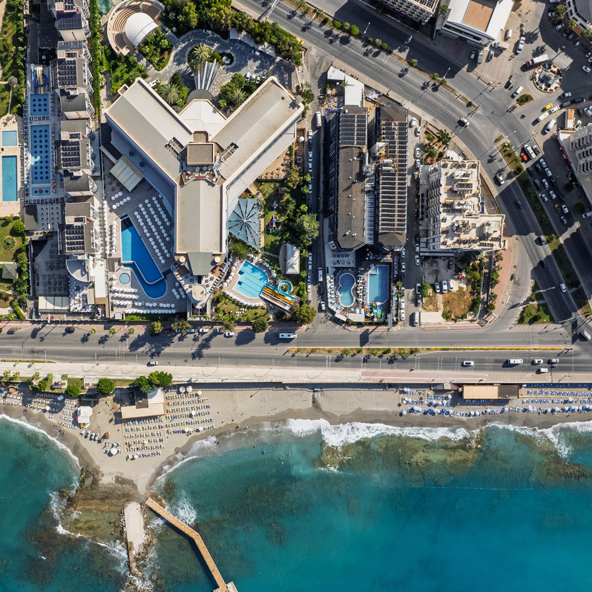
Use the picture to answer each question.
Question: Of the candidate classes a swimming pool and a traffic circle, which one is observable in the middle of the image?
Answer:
swimming pool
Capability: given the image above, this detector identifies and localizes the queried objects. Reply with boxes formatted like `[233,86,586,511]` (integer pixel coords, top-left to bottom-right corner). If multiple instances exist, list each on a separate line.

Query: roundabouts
[534,63,562,92]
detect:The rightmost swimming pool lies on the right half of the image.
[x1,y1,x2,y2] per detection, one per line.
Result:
[368,264,390,304]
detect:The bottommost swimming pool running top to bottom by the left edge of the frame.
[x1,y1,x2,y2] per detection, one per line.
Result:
[1,155,19,202]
